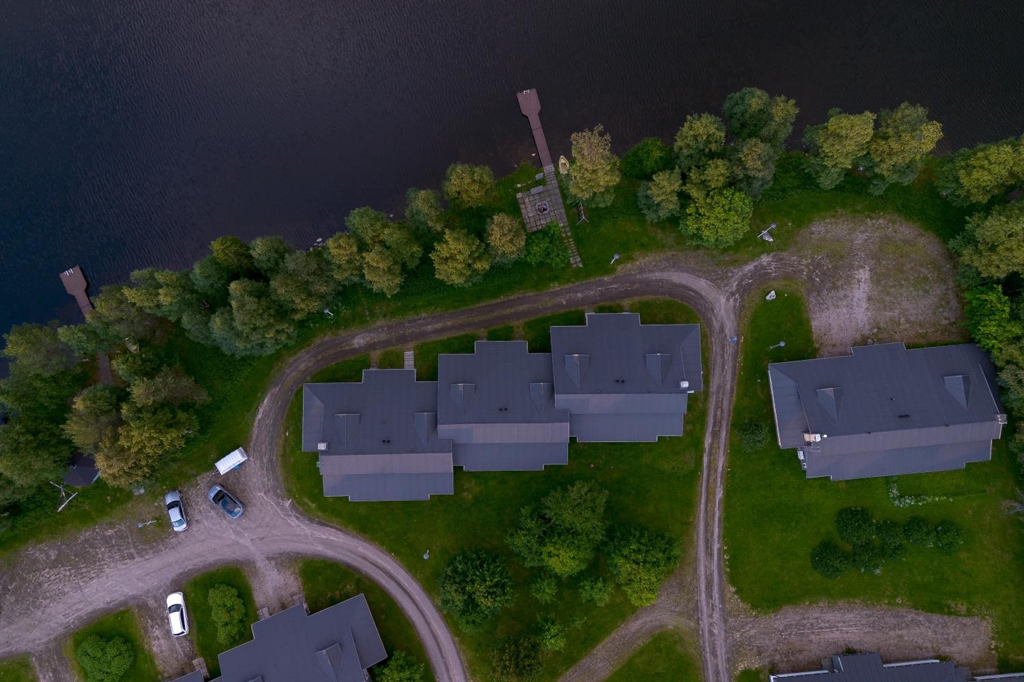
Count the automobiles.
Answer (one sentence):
Looking from above, you can make out 3 automobiles.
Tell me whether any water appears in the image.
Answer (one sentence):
Yes, some water is visible.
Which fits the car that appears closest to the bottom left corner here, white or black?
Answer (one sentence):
The car that appears closest to the bottom left corner looks white in the image.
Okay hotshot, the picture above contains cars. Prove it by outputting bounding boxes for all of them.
[209,483,248,521]
[165,489,191,534]
[164,589,193,640]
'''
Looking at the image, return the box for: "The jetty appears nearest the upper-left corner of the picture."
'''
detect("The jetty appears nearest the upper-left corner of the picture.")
[59,265,102,328]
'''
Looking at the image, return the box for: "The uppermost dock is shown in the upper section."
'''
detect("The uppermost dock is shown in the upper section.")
[517,85,552,168]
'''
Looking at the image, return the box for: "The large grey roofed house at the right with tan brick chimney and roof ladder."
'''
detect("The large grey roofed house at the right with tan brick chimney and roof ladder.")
[769,342,1008,480]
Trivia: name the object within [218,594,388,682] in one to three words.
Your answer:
house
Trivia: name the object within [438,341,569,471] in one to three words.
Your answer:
house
